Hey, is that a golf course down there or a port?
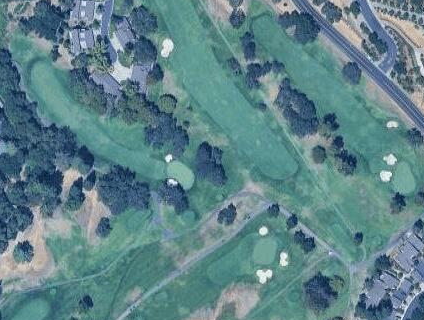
golf course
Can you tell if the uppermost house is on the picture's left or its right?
left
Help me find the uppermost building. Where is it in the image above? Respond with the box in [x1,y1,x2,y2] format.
[70,0,94,20]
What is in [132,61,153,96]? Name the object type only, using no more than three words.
house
